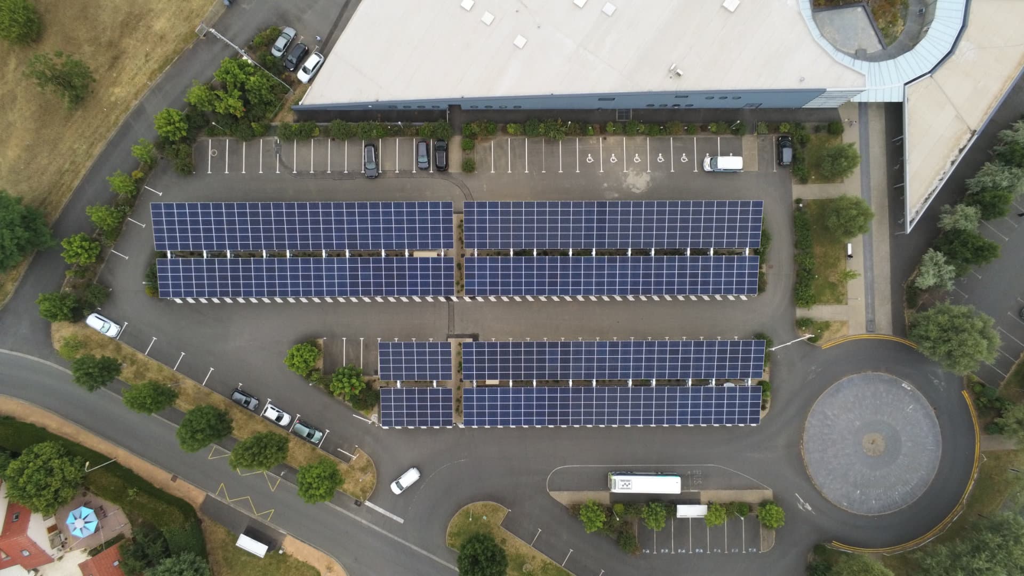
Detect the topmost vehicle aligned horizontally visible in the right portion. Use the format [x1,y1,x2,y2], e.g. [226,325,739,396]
[703,155,744,172]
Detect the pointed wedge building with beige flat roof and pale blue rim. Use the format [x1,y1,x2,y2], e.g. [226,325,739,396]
[893,0,1024,235]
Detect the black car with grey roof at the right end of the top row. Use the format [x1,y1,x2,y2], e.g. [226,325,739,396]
[777,136,794,166]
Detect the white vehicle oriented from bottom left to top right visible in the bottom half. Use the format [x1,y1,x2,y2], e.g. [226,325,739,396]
[391,466,421,495]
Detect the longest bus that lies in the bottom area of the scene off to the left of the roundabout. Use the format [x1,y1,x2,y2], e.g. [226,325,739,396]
[606,471,680,493]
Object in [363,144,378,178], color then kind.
gray car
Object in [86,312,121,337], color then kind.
white car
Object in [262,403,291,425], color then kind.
white car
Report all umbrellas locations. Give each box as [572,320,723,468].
[68,505,98,536]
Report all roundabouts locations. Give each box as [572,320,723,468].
[804,374,943,513]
